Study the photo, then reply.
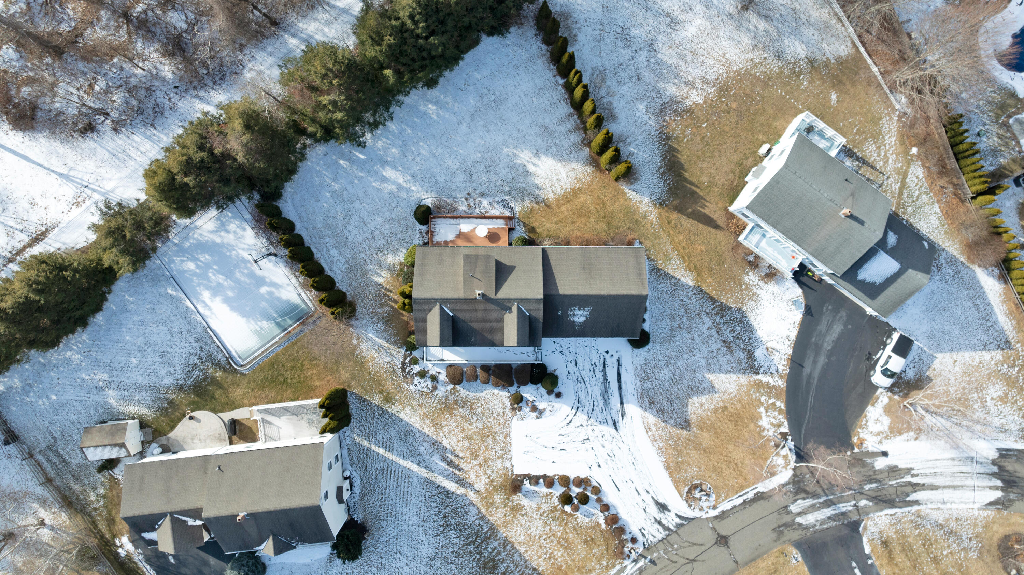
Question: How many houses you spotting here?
3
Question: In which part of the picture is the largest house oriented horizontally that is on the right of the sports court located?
center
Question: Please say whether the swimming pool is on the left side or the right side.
right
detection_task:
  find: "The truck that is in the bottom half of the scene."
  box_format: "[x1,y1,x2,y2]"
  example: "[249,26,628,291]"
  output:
[868,332,913,389]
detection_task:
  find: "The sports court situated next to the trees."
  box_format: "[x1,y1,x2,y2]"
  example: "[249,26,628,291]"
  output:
[157,203,319,368]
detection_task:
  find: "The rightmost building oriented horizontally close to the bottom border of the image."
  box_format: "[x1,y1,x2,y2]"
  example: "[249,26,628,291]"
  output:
[120,436,353,559]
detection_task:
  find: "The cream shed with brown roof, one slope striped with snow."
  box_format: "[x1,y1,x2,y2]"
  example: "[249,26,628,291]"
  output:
[80,419,154,461]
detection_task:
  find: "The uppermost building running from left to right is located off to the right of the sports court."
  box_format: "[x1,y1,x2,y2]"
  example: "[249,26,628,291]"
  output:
[412,245,648,348]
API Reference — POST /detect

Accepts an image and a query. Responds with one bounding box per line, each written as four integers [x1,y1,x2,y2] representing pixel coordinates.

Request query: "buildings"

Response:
[80,419,154,461]
[731,132,937,318]
[120,436,353,559]
[412,245,648,348]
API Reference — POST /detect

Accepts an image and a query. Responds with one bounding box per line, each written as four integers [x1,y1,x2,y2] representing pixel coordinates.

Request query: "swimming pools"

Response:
[994,27,1024,74]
